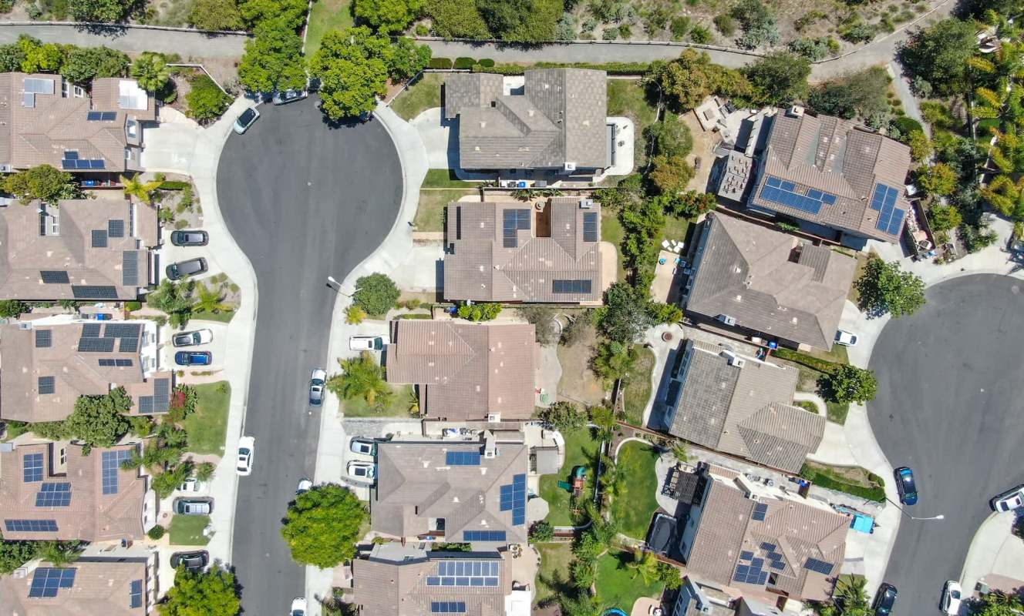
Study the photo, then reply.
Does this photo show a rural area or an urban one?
urban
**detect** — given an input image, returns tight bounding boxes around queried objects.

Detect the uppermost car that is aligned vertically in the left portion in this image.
[309,368,327,405]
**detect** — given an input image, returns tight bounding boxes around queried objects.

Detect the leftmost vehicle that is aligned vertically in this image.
[237,436,255,474]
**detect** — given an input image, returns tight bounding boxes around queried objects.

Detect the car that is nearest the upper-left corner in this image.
[233,103,262,137]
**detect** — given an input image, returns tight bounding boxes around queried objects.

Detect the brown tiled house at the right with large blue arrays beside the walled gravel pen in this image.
[743,105,913,241]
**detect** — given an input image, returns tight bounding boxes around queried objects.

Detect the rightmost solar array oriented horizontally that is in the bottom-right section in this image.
[804,558,835,574]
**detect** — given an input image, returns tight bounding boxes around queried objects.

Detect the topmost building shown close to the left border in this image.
[0,66,163,175]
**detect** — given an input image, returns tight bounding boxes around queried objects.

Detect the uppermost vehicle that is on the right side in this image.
[832,329,861,347]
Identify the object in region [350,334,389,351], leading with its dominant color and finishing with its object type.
white car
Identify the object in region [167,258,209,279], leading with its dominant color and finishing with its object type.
gray car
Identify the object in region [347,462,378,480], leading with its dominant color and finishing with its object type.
white car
